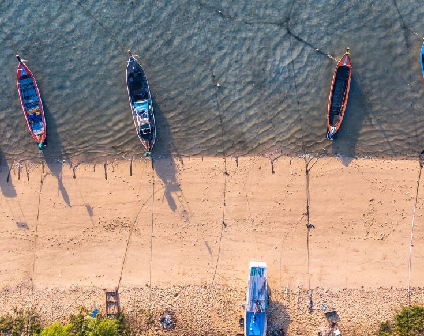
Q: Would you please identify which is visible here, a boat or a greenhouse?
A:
boat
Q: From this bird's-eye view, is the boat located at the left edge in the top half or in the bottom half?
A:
top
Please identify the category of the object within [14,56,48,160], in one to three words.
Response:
boat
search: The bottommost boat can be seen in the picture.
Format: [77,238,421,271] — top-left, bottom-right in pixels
[243,261,267,336]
